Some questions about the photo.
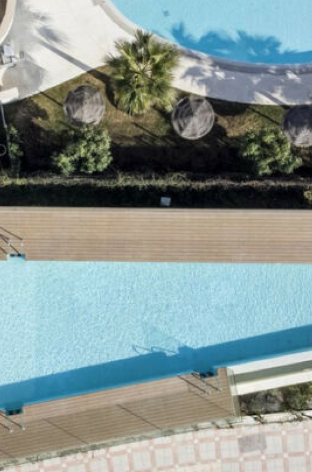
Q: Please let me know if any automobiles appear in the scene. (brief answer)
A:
No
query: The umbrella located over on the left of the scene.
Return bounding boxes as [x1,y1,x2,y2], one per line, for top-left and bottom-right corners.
[61,84,106,126]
